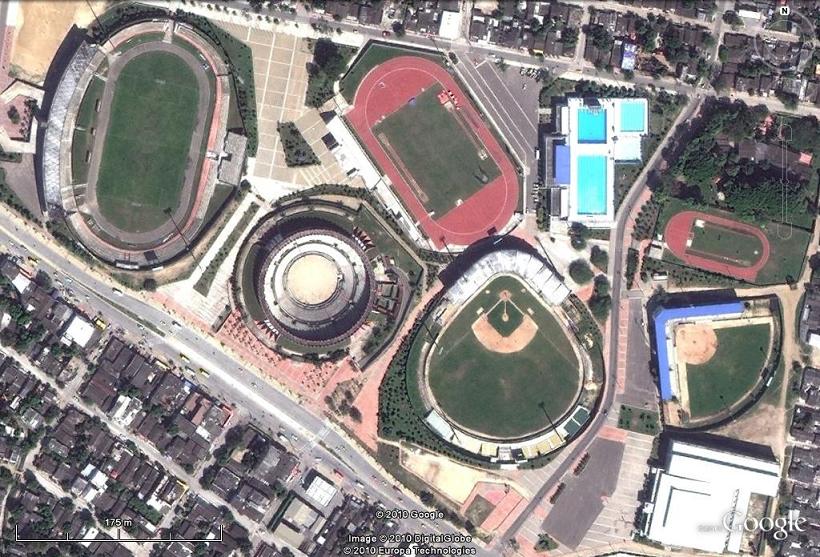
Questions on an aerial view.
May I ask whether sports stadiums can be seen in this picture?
Yes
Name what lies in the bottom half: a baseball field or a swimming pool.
baseball field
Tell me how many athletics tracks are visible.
three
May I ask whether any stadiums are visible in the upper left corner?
Yes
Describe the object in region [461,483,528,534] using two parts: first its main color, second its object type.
pink sports court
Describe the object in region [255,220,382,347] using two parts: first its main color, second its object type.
white stadium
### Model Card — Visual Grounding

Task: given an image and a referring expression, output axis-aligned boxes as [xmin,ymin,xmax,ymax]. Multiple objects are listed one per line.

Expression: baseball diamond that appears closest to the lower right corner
[676,317,774,421]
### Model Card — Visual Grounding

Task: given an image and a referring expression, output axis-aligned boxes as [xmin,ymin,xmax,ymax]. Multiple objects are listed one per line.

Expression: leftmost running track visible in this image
[73,33,214,248]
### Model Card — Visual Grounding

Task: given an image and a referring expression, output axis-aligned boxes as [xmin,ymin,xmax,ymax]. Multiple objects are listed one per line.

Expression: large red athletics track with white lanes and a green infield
[344,58,517,251]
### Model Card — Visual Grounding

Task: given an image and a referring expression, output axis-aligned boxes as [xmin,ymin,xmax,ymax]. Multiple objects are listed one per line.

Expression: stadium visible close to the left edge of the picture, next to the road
[39,15,231,271]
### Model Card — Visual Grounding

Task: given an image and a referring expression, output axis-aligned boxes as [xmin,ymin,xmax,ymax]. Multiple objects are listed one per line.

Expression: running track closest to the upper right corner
[665,211,769,279]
